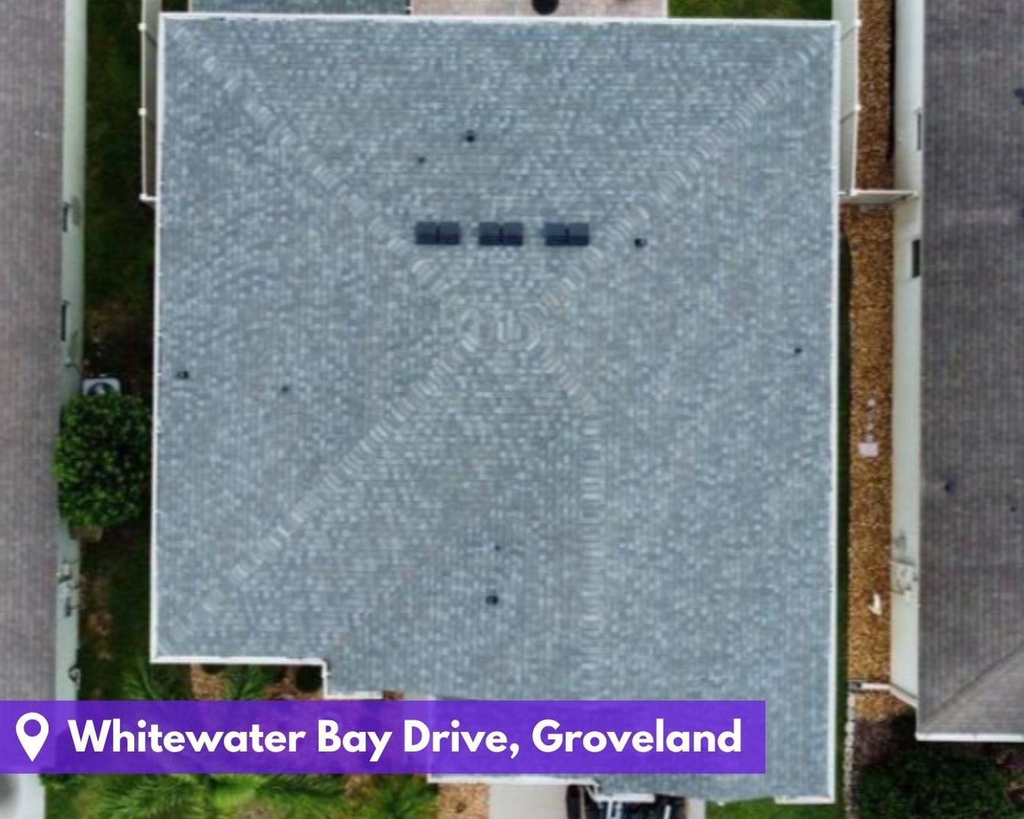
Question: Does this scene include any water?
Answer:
No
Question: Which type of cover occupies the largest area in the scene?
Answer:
buildings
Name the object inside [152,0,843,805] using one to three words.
house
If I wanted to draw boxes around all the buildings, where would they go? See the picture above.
[846,0,1024,741]
[0,0,92,770]
[152,0,843,805]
